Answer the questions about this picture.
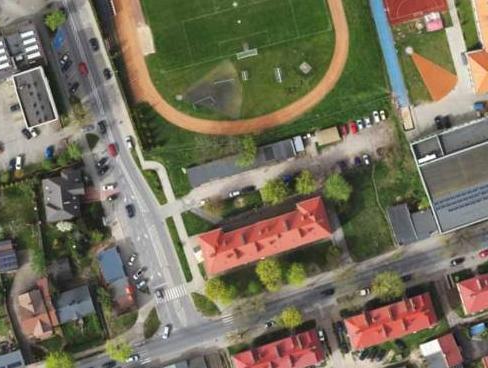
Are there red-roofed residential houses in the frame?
Yes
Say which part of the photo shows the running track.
top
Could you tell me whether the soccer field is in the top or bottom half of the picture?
top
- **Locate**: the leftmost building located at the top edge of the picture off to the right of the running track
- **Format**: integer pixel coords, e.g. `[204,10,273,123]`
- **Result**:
[423,9,444,31]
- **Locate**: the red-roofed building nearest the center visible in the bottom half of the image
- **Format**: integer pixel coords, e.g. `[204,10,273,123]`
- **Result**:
[197,197,333,278]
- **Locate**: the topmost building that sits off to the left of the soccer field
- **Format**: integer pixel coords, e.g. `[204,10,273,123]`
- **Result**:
[0,25,48,84]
